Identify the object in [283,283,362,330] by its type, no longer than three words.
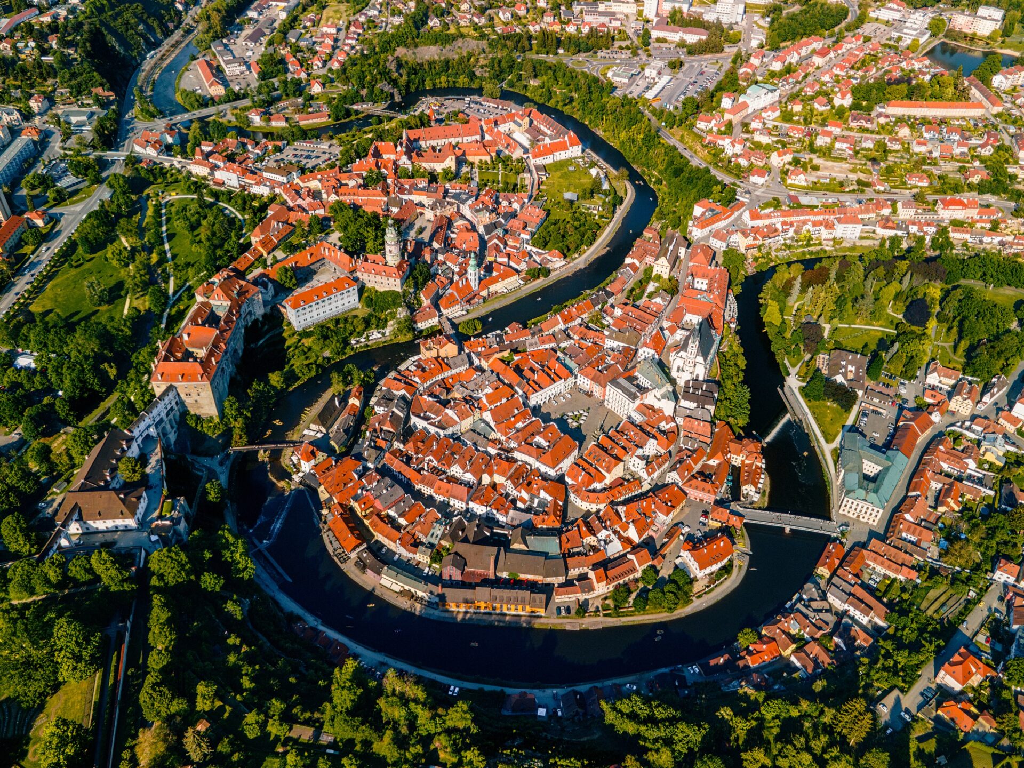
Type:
building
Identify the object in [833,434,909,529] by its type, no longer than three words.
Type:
building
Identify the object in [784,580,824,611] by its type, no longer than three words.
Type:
house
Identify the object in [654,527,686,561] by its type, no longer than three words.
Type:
house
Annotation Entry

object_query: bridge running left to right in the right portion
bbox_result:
[740,507,851,540]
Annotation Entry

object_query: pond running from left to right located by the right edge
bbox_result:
[923,42,1024,75]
